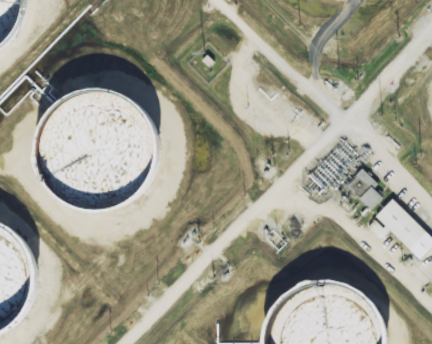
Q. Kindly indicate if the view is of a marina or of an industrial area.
industrial area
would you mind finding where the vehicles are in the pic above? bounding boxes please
[373,162,382,170]
[384,236,392,246]
[386,172,394,180]
[386,264,394,272]
[399,190,408,198]
[391,243,400,252]
[362,242,370,250]
[409,200,418,208]
[423,258,432,266]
